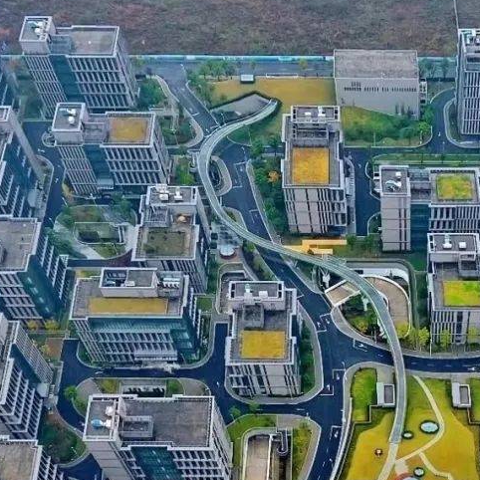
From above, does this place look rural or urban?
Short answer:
urban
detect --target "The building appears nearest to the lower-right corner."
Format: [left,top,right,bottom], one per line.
[452,382,472,412]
